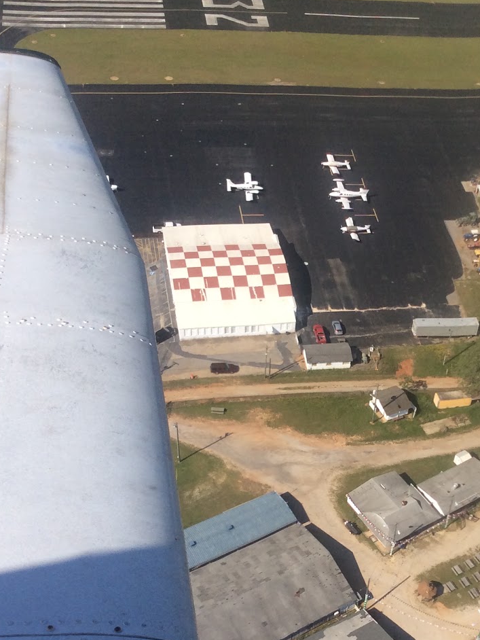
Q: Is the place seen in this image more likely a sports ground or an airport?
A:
airport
